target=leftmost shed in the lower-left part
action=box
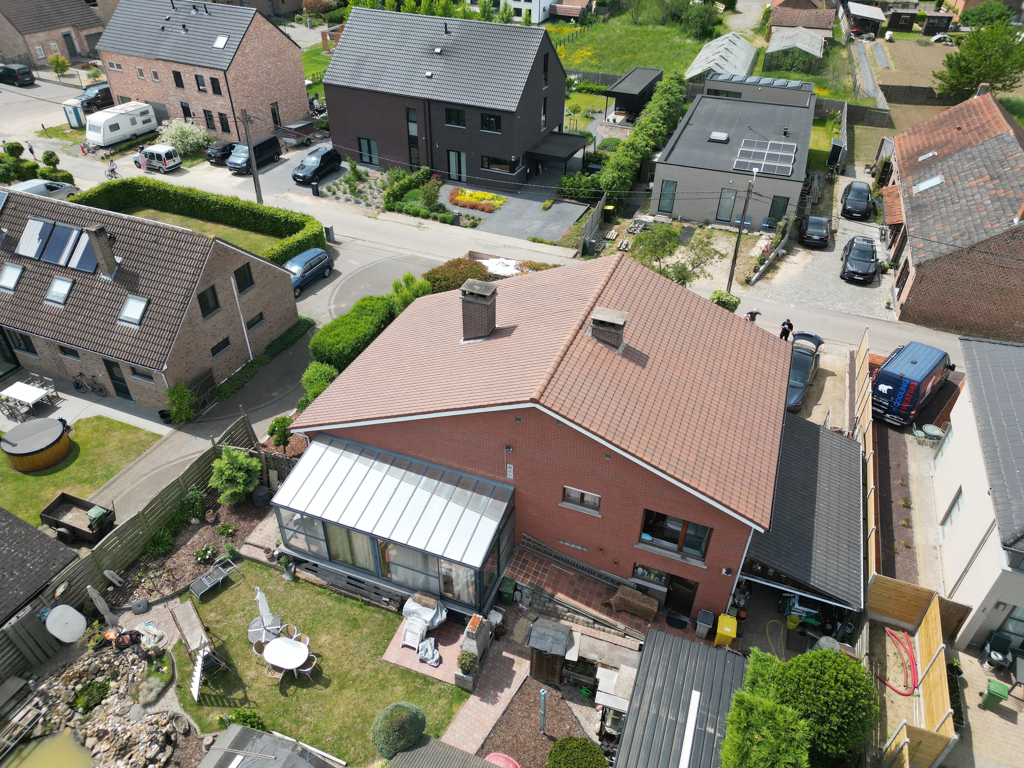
[0,508,96,666]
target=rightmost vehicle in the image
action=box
[873,327,959,419]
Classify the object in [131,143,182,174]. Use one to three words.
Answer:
car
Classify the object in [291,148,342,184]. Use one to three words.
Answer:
car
